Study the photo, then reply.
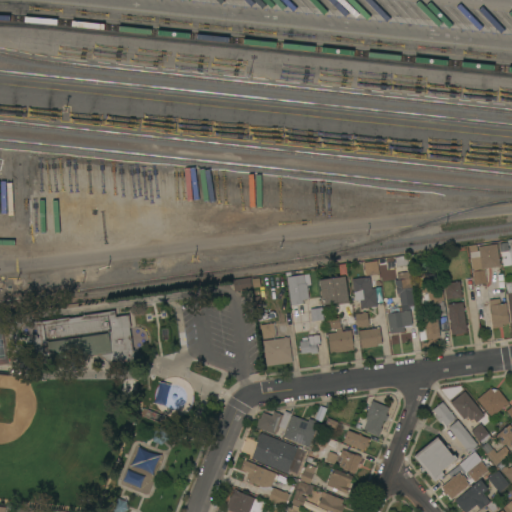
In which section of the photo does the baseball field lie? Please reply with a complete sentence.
The baseball field is in the bottom left part of the image.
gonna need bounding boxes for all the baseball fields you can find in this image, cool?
[0,376,38,444]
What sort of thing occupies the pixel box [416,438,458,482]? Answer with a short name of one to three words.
building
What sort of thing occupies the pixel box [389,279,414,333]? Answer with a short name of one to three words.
house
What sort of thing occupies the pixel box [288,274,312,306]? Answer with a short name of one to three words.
building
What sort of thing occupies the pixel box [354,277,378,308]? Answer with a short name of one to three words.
house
